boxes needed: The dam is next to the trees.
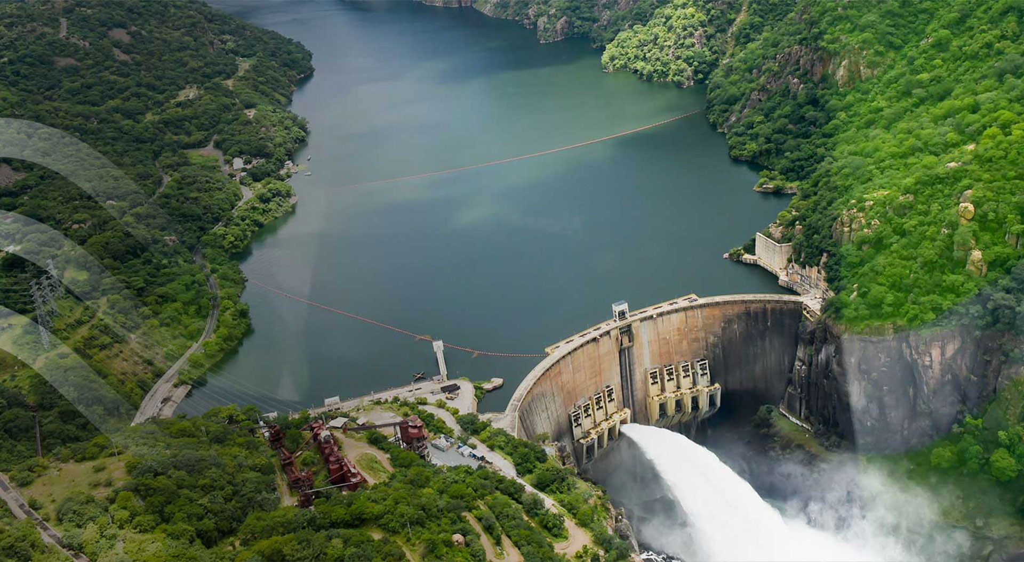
[499,293,808,485]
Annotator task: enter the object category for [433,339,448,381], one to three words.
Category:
pier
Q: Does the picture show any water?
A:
Yes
